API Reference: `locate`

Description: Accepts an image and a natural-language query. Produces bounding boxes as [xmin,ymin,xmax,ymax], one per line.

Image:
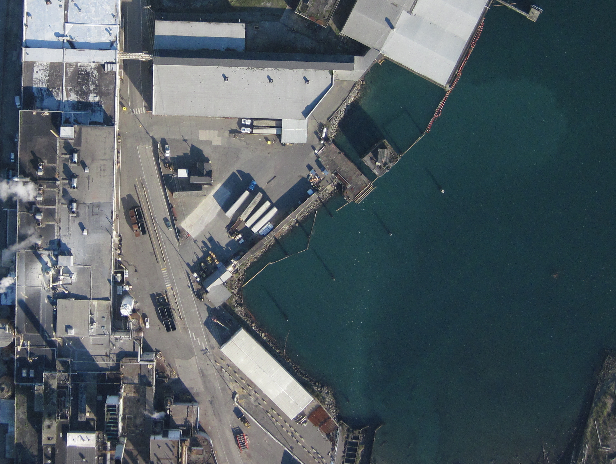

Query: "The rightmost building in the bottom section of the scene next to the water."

[220,325,313,419]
